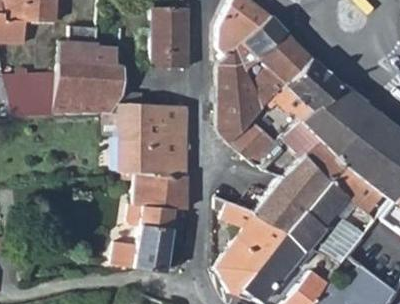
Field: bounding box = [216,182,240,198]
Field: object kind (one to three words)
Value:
car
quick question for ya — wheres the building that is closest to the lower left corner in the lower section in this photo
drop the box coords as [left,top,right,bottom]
[108,242,135,270]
